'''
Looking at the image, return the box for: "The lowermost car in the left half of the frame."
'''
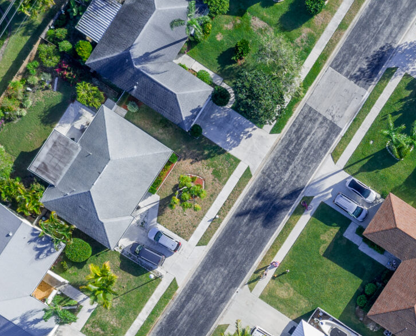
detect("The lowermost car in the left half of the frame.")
[128,240,168,270]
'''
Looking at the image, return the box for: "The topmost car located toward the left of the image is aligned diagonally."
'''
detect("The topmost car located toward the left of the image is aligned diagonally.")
[146,224,183,254]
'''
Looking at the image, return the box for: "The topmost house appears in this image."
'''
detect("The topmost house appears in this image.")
[85,0,213,131]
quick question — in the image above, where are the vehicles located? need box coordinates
[146,224,183,254]
[128,240,168,270]
[248,322,275,336]
[343,175,379,206]
[331,190,370,224]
